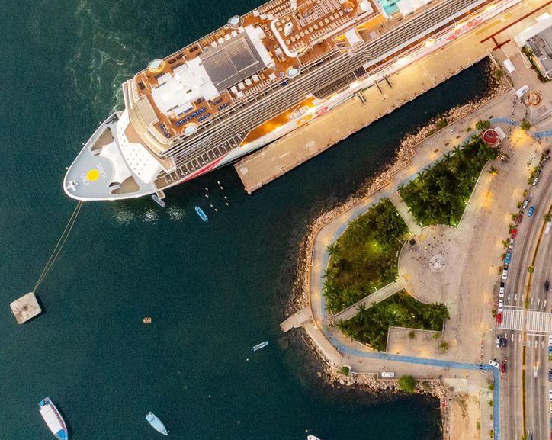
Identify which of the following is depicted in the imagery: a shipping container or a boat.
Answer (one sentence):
I can see a boat in this picture.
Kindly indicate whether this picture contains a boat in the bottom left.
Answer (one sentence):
Yes, the scene does show a boat in the bottom left.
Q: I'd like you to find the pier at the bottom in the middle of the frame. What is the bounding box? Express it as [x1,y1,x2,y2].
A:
[280,308,312,333]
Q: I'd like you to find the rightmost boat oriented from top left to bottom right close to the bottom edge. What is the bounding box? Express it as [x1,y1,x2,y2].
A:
[145,411,167,435]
